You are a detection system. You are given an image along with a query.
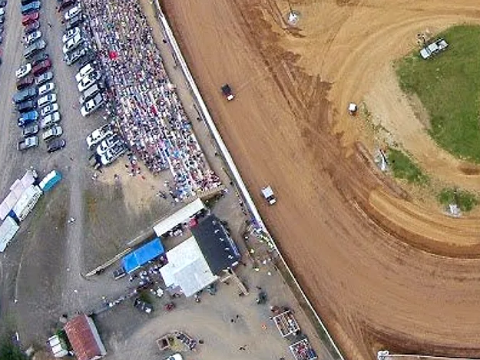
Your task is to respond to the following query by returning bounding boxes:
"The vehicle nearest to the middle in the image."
[259,183,277,208]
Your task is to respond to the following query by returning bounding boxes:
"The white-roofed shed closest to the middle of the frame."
[154,199,208,241]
